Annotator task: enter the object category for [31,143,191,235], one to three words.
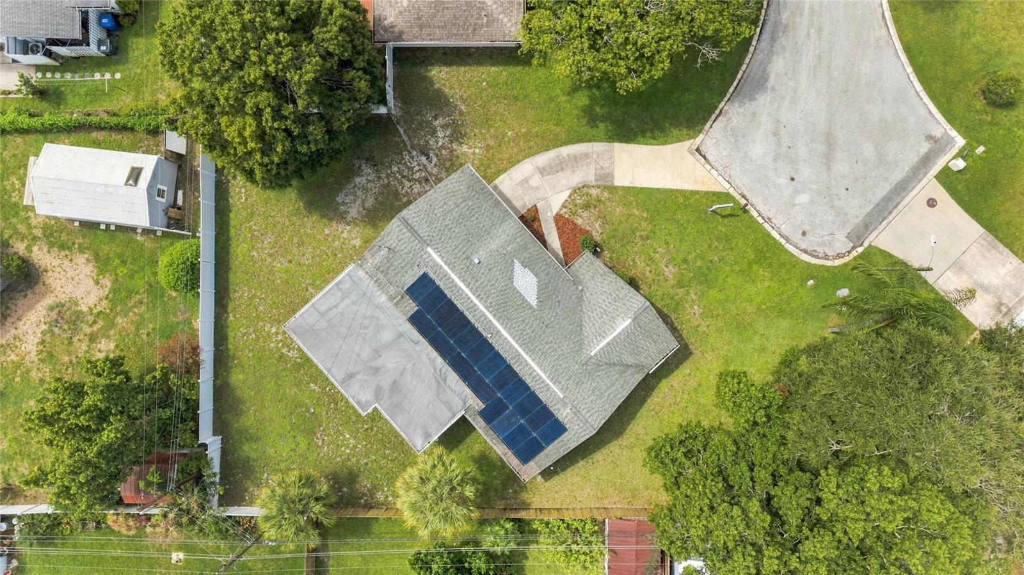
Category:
shed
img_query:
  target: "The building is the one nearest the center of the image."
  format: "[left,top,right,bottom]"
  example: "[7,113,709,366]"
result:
[282,162,680,485]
